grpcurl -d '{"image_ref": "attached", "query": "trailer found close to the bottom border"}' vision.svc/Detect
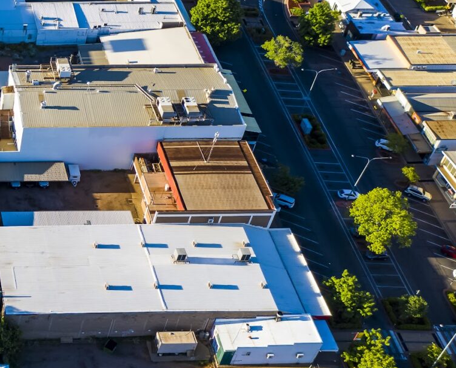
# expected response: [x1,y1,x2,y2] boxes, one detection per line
[154,330,200,359]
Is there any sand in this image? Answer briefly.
No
